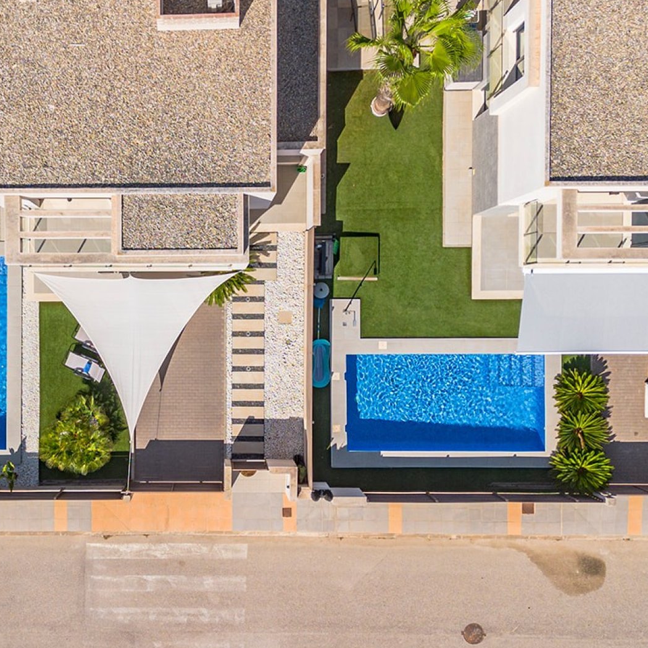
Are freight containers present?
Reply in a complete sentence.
No, there's no freight container here.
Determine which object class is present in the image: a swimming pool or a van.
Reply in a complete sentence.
Visible in the photo is a swimming pool.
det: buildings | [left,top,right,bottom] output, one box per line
[0,0,329,274]
[472,0,648,268]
